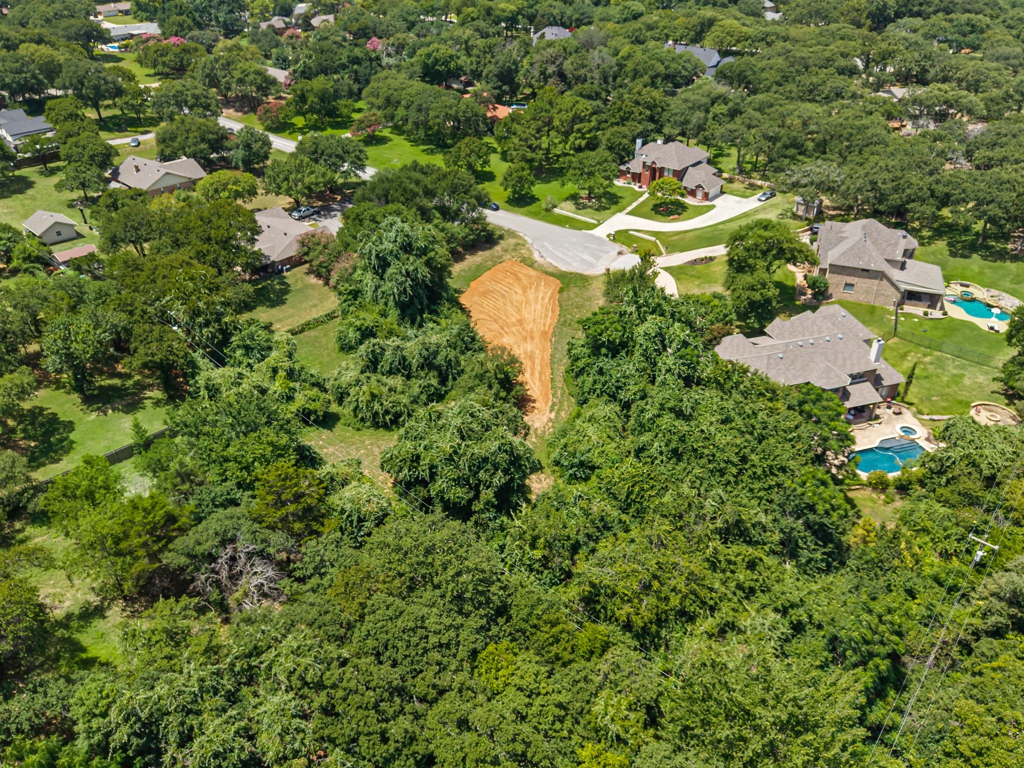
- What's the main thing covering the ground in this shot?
trees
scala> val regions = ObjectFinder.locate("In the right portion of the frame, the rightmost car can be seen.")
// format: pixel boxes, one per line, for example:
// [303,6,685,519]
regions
[809,222,821,236]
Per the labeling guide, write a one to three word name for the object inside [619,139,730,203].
house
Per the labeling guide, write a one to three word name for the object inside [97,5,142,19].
house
